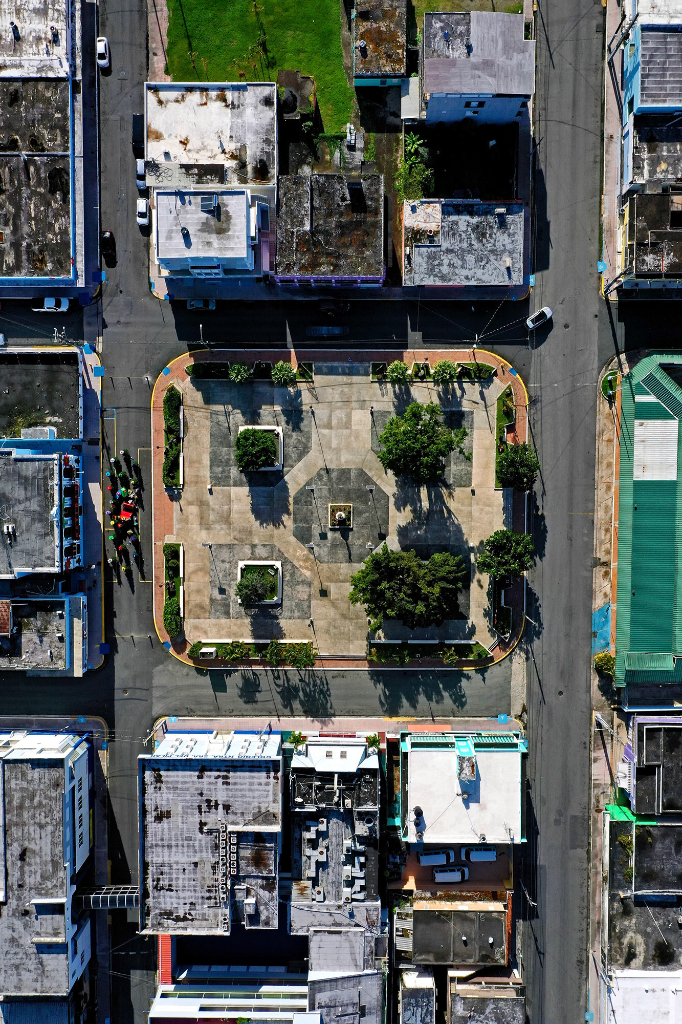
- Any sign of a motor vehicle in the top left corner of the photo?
Yes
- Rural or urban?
urban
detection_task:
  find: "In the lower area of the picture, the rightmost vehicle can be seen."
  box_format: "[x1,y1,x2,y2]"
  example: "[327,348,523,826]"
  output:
[460,843,496,862]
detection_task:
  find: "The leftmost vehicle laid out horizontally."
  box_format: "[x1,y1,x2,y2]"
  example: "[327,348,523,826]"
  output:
[32,297,72,314]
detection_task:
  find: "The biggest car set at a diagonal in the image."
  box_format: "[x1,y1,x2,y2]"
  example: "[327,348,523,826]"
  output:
[525,307,555,332]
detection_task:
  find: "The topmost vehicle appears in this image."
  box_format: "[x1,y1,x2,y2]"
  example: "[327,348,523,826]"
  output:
[94,35,111,69]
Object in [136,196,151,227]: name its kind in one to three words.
car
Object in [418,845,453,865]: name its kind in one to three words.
vehicle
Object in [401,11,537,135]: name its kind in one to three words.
house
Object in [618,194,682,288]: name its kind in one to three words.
building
